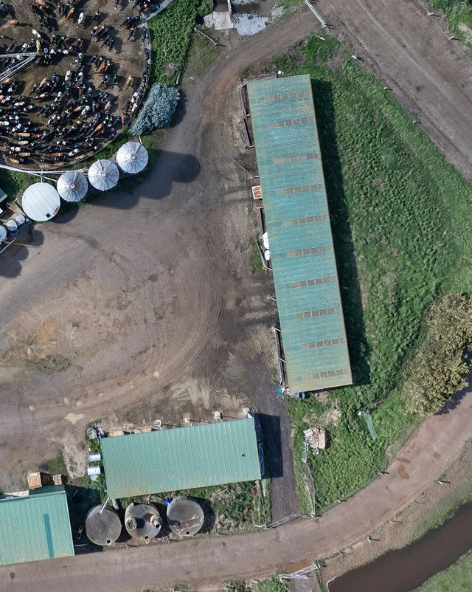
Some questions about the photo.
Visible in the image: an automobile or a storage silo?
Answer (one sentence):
It is a storage silo that can be seen here.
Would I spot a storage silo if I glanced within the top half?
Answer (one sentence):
Yes, within the top half there is a storage silo.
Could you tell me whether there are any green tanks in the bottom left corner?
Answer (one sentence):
No, no green tank appears in the bottom left corner.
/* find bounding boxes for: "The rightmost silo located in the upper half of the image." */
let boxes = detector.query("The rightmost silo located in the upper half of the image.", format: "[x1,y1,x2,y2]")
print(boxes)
[113,140,148,177]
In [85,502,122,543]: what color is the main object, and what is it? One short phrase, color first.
gray storage tank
